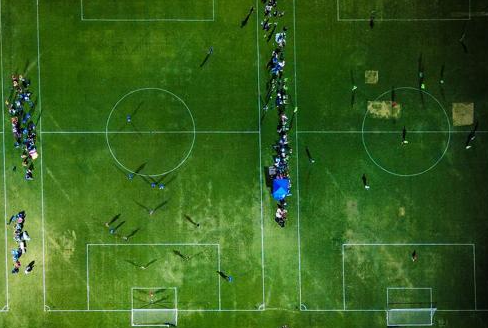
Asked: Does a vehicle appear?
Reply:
No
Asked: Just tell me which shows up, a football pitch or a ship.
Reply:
football pitch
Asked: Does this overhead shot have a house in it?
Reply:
No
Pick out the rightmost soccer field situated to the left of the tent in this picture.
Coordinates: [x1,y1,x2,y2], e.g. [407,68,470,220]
[38,0,264,310]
